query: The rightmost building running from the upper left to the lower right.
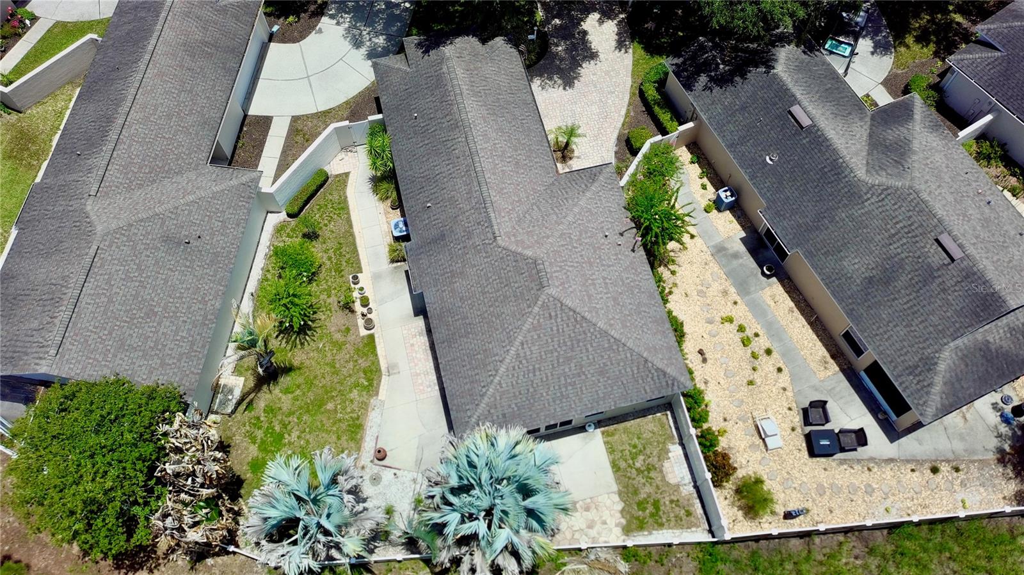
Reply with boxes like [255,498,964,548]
[664,23,1024,429]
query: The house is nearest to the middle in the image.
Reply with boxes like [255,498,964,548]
[370,23,694,442]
